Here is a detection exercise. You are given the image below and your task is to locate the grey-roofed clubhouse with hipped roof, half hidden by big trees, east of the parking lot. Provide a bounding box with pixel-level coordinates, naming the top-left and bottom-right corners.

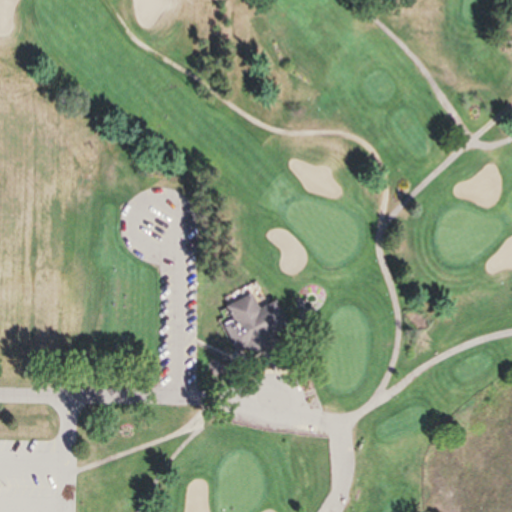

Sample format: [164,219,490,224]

[227,292,280,350]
